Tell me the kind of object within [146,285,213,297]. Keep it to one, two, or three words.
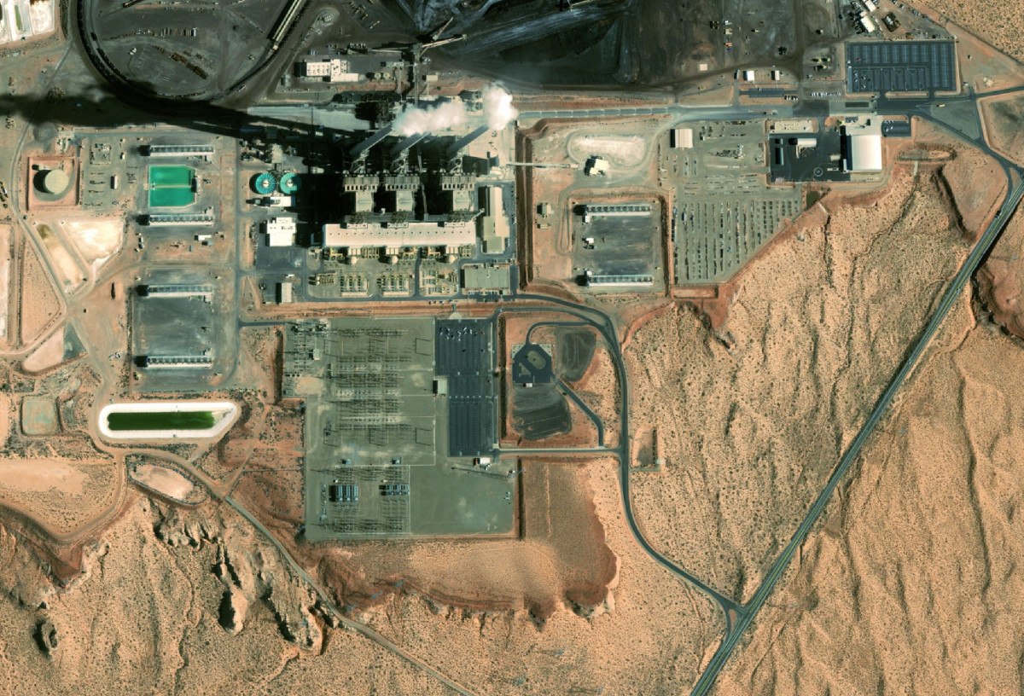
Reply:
cooling tower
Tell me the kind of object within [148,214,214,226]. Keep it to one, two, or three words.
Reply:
cooling tower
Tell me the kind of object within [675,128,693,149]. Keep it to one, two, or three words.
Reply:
shed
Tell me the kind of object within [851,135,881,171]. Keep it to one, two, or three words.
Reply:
building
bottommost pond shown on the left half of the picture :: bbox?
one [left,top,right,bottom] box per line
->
[100,402,236,439]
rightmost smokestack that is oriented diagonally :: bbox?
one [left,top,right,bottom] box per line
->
[441,123,491,158]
